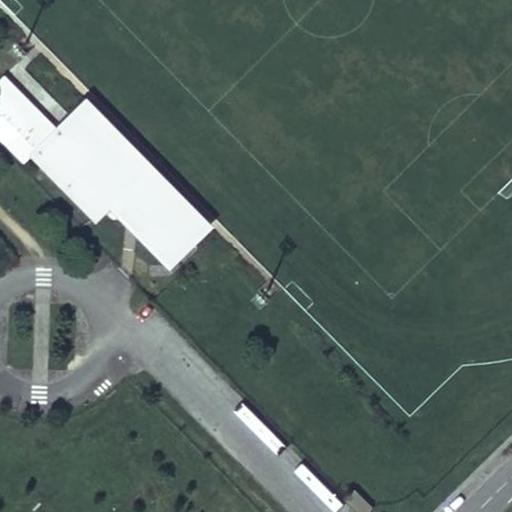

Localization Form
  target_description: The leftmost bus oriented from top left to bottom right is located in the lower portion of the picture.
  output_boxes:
[234,402,288,457]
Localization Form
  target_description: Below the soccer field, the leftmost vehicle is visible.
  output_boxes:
[137,302,154,322]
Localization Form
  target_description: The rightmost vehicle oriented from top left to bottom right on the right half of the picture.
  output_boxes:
[294,462,346,512]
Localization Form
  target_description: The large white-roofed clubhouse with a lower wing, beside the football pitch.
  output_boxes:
[0,75,212,270]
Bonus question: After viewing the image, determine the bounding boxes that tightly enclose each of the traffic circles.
[0,257,151,410]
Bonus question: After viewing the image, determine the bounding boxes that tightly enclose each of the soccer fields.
[104,0,512,298]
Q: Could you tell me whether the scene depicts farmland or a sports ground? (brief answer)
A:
sports ground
